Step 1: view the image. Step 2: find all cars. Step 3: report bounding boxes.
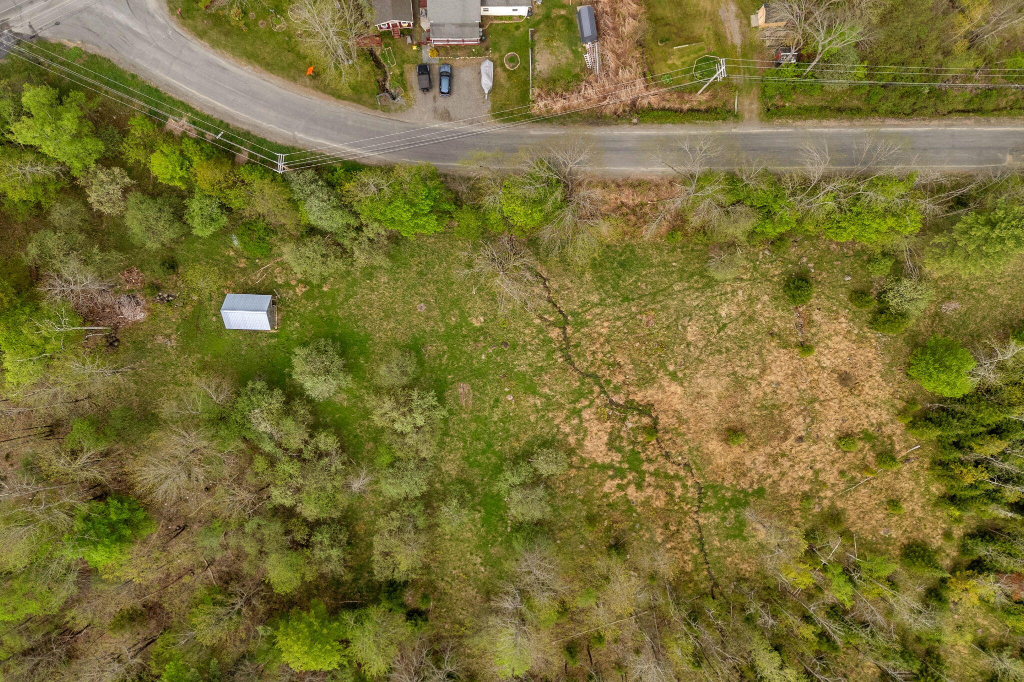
[437,63,452,96]
[416,63,432,94]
